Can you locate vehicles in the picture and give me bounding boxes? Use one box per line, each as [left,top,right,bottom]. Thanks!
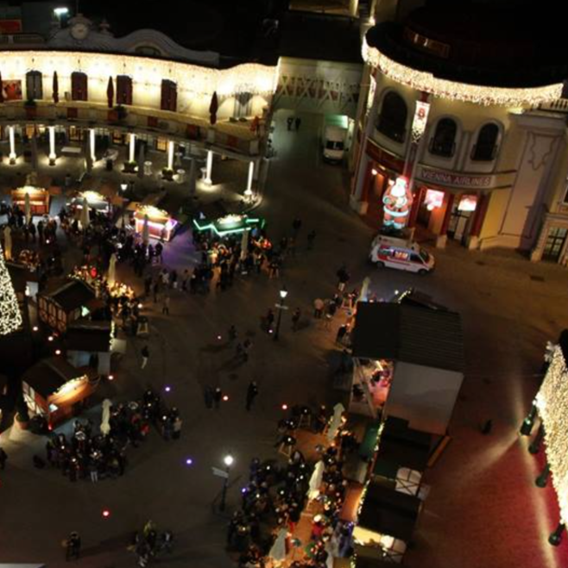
[315,118,349,165]
[369,230,446,276]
